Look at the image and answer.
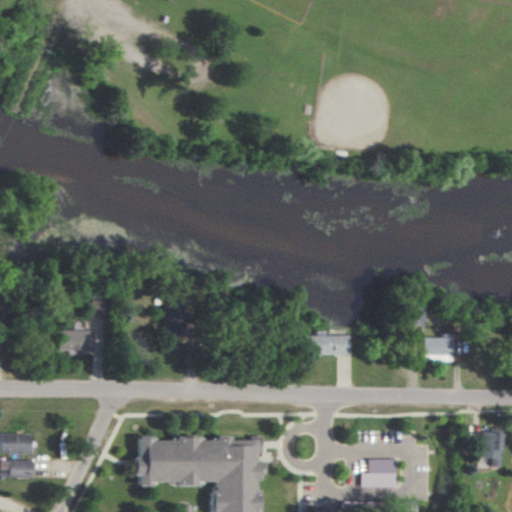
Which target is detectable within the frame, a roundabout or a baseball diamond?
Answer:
baseball diamond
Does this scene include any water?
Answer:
Yes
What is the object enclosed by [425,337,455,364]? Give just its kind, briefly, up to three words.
house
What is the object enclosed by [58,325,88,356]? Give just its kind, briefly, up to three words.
house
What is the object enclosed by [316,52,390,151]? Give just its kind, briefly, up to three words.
baseball field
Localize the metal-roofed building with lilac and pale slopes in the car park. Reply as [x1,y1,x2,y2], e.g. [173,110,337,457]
[360,460,398,488]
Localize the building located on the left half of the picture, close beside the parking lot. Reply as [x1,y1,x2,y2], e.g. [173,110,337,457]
[136,436,266,512]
